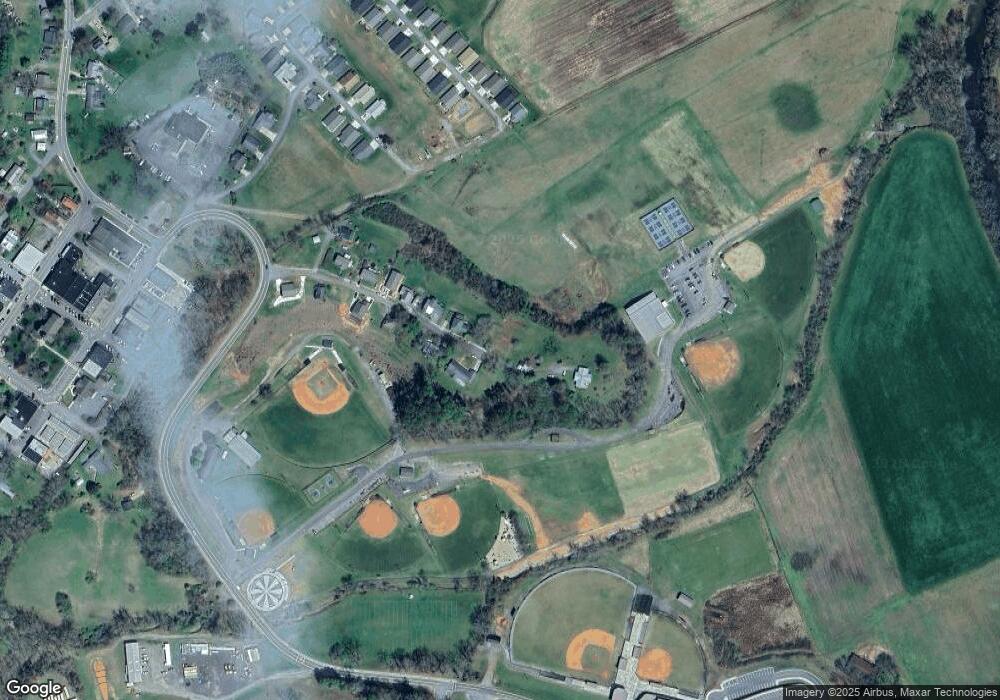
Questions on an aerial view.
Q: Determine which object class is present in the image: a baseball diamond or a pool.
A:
baseball diamond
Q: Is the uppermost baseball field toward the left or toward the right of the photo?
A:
right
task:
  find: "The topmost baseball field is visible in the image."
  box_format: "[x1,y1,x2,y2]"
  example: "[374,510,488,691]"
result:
[717,208,816,319]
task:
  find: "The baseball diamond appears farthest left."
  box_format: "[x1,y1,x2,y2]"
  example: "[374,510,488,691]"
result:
[212,474,308,553]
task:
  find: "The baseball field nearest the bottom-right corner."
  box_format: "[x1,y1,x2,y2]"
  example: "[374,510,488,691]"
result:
[635,610,706,695]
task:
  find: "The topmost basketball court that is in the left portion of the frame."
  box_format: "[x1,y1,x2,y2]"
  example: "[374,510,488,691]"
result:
[302,470,344,508]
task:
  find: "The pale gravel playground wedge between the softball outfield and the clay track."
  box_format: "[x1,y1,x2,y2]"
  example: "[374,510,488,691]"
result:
[486,515,521,573]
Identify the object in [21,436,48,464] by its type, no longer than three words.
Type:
building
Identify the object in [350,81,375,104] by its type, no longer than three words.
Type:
house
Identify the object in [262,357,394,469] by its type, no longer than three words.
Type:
baseball field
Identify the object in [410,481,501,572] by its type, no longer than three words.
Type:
baseball field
